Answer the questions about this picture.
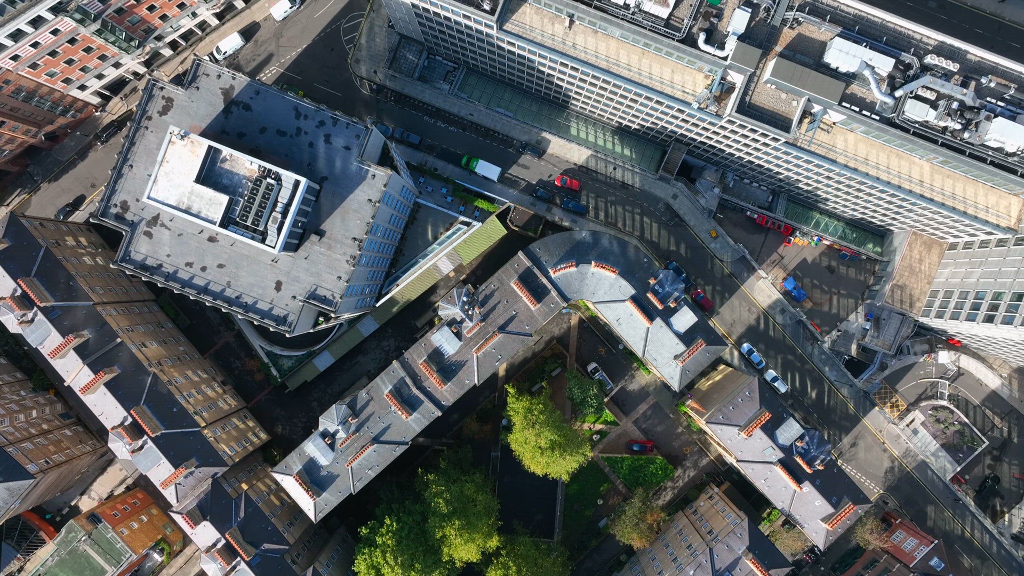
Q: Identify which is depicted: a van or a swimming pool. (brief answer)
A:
van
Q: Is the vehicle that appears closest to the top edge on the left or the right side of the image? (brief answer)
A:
left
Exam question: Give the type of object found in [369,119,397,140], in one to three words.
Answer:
car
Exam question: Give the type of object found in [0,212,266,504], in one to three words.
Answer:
building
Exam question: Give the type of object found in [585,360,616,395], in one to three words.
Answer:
van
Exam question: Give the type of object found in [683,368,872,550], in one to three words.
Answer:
building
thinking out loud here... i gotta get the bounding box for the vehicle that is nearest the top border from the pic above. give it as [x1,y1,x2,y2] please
[265,0,305,24]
